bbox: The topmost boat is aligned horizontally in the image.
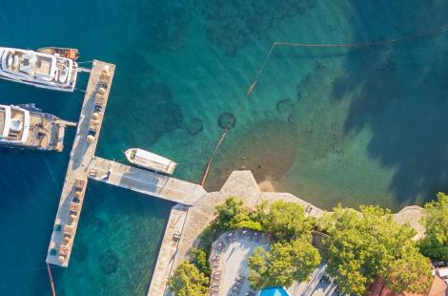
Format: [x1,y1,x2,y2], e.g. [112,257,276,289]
[39,46,80,61]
